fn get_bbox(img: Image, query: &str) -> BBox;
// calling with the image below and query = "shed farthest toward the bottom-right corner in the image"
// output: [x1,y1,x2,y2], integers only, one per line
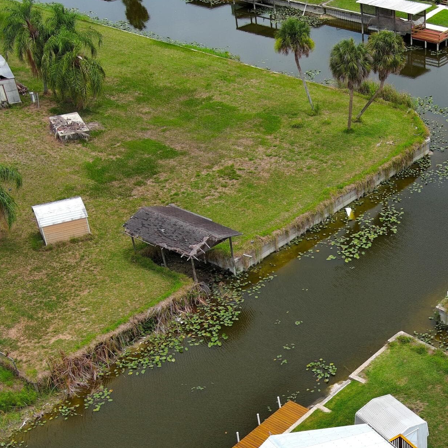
[353,391,430,448]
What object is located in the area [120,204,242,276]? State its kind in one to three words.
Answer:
building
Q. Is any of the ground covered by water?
Yes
